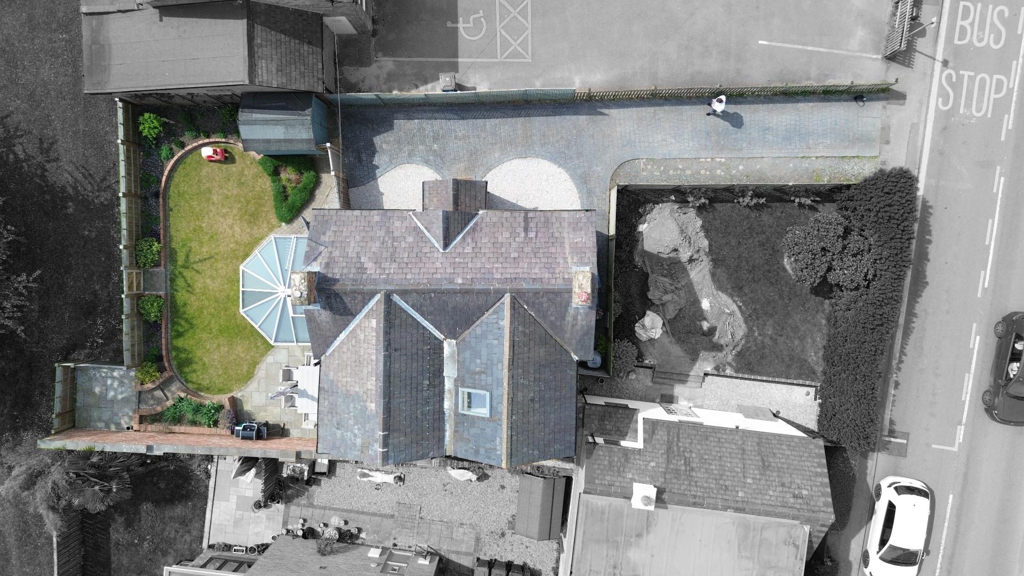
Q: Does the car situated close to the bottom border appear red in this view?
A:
No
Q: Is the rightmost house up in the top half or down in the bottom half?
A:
bottom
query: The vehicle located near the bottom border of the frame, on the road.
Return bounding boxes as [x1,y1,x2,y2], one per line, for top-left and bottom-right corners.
[862,475,934,576]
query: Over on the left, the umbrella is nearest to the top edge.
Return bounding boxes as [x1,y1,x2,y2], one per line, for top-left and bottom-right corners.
[269,383,301,398]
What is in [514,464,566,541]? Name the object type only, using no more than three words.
shed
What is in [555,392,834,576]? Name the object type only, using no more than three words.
house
